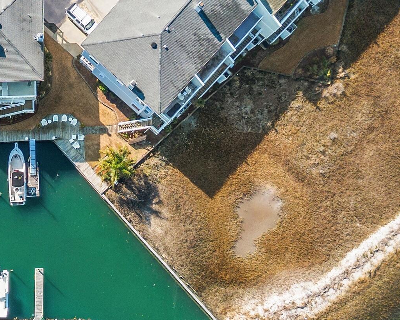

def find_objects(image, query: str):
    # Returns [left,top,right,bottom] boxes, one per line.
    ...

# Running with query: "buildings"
[75,0,314,140]
[0,0,46,120]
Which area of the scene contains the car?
top left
